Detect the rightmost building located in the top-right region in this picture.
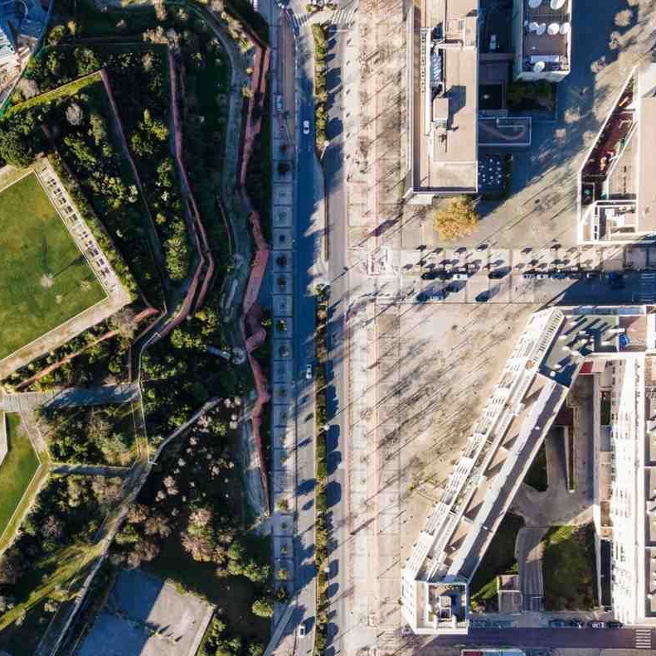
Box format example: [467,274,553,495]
[574,62,656,247]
